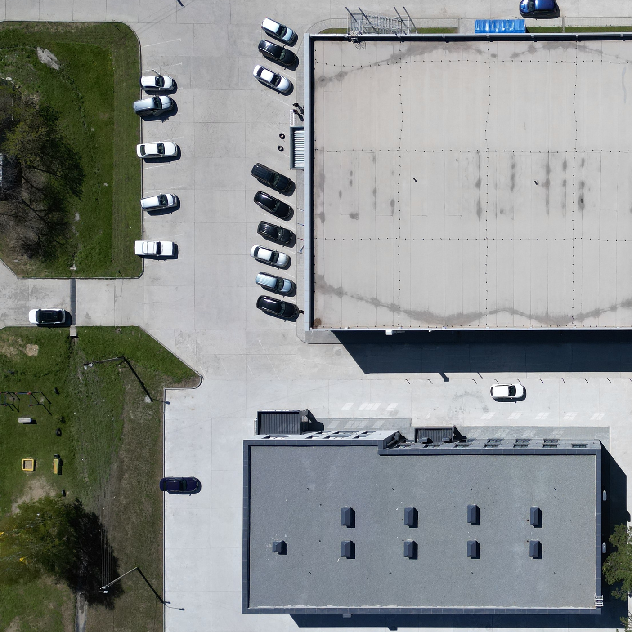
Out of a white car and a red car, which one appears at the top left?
white car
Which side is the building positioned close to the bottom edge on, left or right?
right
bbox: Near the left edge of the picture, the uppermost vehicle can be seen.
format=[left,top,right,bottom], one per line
[27,306,67,326]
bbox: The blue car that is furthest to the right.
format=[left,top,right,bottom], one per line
[520,0,558,16]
